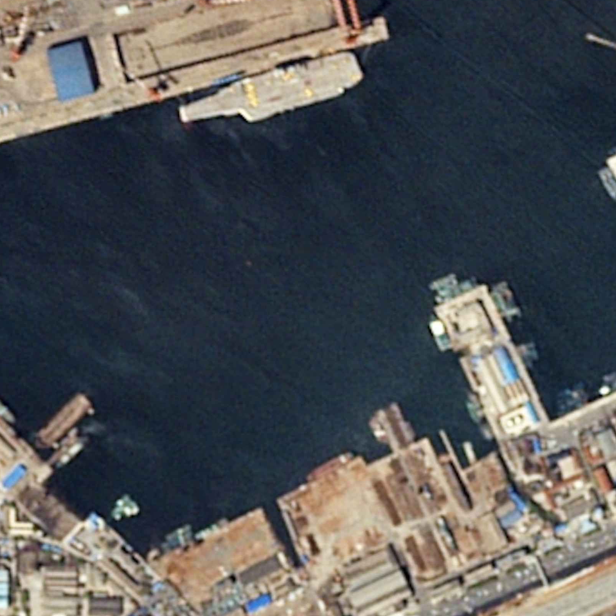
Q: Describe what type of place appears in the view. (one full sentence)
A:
The area seen from above is a port.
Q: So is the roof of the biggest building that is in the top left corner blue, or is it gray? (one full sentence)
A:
In this view, the roof of the biggest building that is in the top left corner is blue.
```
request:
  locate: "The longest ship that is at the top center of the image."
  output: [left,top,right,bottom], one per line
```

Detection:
[179,52,362,122]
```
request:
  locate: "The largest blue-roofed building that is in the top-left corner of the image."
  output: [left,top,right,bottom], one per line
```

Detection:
[46,38,95,102]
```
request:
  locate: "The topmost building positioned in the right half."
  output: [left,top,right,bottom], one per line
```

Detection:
[458,302,491,336]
